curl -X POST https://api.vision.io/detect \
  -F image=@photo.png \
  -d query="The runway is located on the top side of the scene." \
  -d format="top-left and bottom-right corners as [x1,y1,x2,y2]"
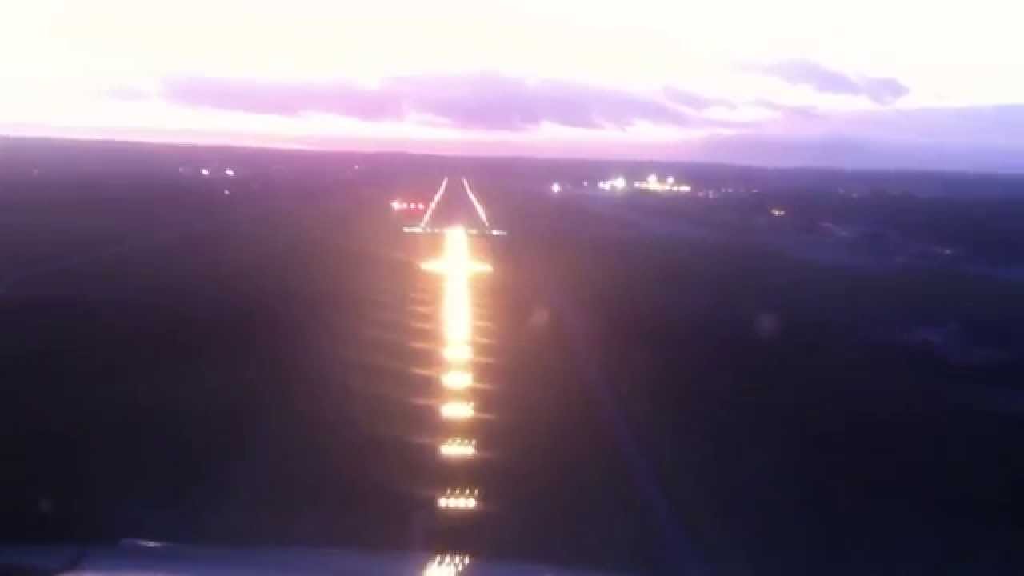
[429,177,481,232]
